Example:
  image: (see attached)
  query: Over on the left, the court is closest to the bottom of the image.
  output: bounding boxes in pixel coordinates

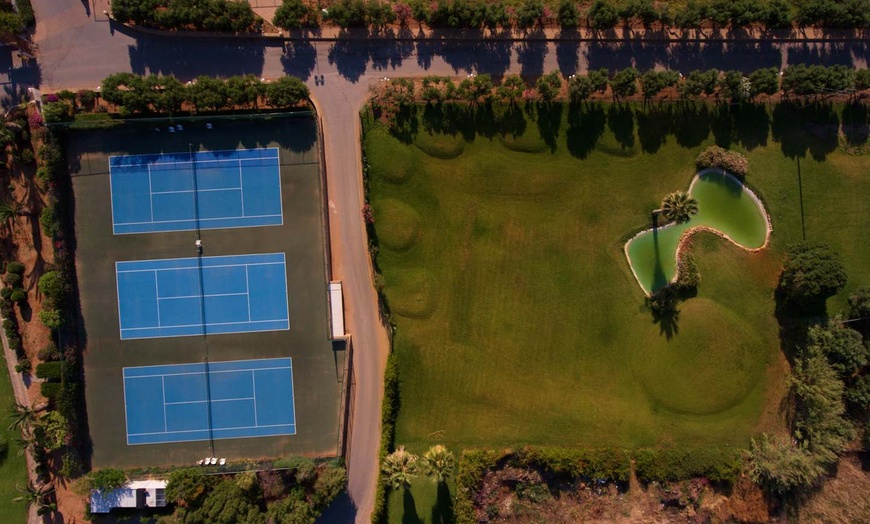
[123,356,296,448]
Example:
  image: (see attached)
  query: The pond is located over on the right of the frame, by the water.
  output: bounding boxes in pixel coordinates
[625,168,771,298]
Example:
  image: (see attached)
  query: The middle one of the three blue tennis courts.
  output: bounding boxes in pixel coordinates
[116,251,289,342]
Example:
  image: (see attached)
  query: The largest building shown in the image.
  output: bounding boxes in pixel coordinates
[91,480,173,514]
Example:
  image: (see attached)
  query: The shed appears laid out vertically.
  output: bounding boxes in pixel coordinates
[329,280,353,339]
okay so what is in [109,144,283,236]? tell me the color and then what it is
blue tennis court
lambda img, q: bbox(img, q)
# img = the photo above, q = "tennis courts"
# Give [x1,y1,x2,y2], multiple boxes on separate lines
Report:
[116,251,289,342]
[123,356,296,448]
[109,144,283,236]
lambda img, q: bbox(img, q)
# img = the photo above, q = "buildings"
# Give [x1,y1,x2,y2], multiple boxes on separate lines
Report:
[329,280,353,339]
[91,480,173,514]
